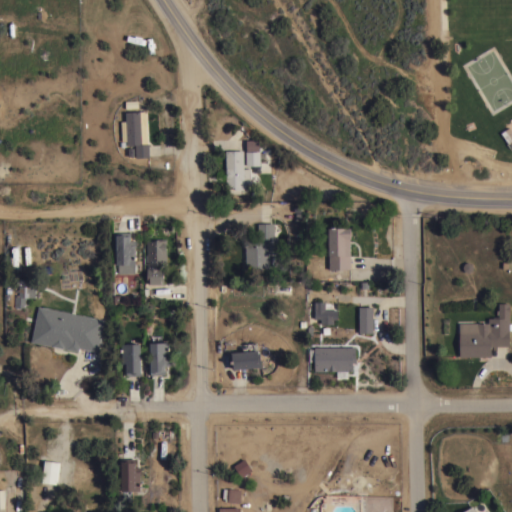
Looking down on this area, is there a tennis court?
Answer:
No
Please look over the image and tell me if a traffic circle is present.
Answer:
No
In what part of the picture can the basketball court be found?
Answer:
top right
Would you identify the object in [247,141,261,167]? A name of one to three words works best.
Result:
shed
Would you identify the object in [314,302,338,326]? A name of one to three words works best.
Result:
house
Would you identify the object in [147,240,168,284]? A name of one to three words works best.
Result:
house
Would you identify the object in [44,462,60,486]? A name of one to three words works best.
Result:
barn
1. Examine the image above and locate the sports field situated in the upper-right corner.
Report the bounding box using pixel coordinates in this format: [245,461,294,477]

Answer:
[450,0,512,163]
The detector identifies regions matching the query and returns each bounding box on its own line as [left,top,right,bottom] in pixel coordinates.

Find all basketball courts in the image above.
[464,48,512,115]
